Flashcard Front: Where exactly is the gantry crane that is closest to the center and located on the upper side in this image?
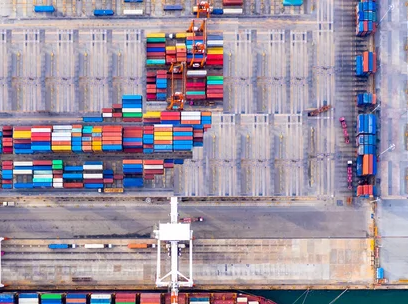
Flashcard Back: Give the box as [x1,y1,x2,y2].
[164,62,188,107]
